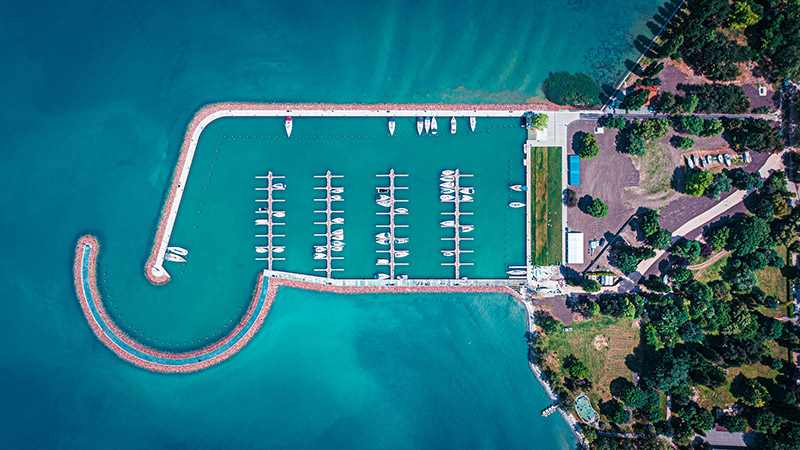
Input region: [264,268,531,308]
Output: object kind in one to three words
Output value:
pier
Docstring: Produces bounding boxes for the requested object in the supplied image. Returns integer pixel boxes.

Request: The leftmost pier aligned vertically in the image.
[255,171,285,269]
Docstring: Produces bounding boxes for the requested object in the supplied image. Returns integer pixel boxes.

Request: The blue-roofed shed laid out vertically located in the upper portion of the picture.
[566,155,580,186]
